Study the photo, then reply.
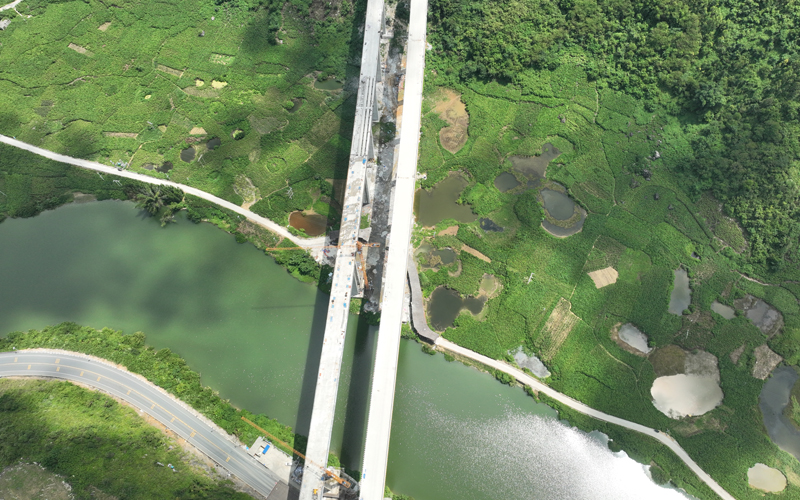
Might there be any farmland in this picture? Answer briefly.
Yes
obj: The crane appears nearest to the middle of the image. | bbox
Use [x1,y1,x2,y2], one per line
[267,241,380,292]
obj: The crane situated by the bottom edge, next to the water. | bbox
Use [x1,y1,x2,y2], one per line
[241,416,351,490]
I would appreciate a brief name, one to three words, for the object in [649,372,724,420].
pond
